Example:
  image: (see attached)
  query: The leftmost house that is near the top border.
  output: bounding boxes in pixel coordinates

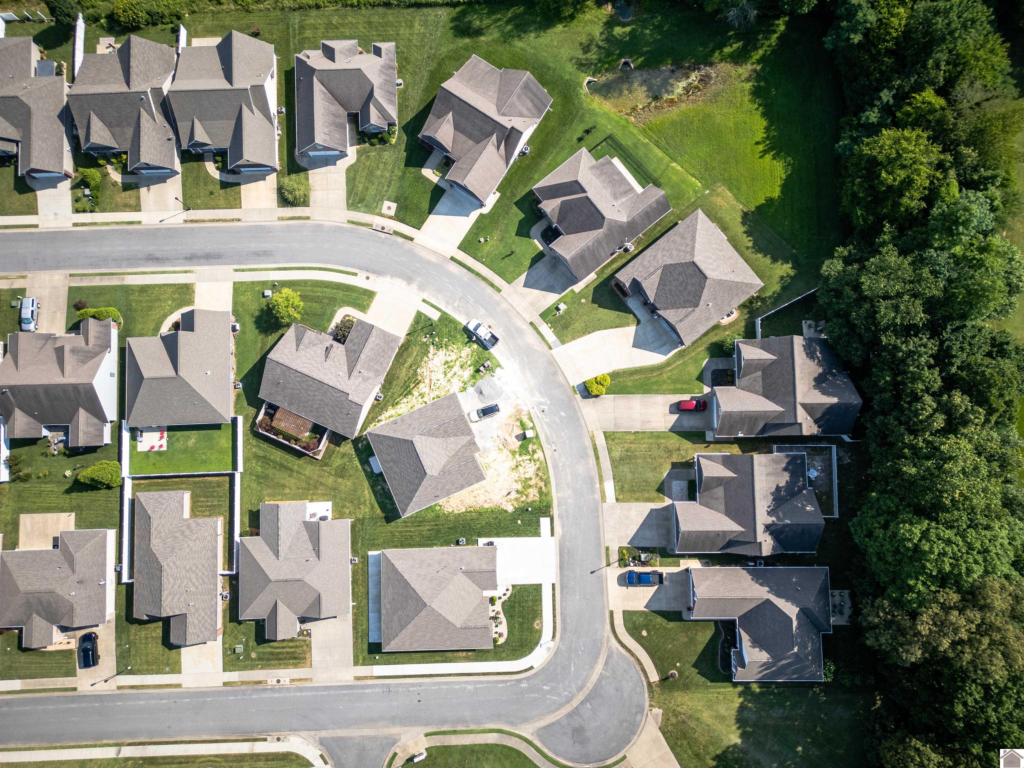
[0,31,74,180]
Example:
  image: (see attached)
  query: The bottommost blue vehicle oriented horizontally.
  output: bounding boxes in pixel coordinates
[626,571,664,587]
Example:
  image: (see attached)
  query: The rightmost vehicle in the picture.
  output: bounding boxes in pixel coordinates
[675,398,706,413]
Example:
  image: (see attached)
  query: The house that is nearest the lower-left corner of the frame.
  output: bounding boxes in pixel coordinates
[0,528,114,653]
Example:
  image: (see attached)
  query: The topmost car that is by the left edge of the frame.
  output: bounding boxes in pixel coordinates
[18,297,39,331]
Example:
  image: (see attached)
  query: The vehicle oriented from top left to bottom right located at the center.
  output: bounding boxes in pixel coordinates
[465,317,500,350]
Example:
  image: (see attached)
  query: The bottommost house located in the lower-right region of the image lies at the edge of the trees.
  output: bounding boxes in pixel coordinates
[687,564,832,682]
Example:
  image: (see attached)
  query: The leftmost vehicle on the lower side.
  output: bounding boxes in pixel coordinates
[79,633,99,668]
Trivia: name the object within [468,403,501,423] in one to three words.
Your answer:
car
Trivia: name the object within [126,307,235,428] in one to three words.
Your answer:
house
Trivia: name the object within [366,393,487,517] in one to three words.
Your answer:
house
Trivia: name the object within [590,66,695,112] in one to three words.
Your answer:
pond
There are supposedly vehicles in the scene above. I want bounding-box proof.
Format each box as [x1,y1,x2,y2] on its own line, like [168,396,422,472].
[626,571,664,587]
[468,403,501,423]
[675,398,706,413]
[79,633,99,668]
[18,297,39,331]
[465,317,500,350]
